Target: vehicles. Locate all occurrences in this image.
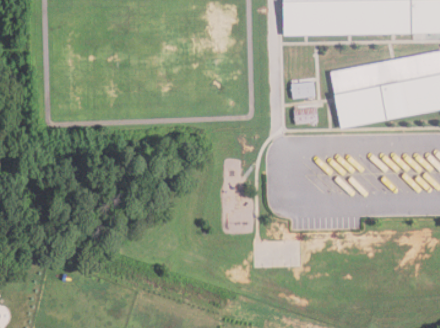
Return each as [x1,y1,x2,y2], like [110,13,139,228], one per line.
[424,153,440,172]
[414,176,432,192]
[348,176,368,197]
[334,176,355,196]
[421,172,440,192]
[326,158,348,177]
[368,152,388,172]
[402,153,424,174]
[380,153,400,174]
[380,176,398,194]
[344,154,366,174]
[390,152,412,172]
[400,173,422,194]
[413,152,434,173]
[312,156,333,176]
[334,154,355,174]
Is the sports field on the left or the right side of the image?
left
